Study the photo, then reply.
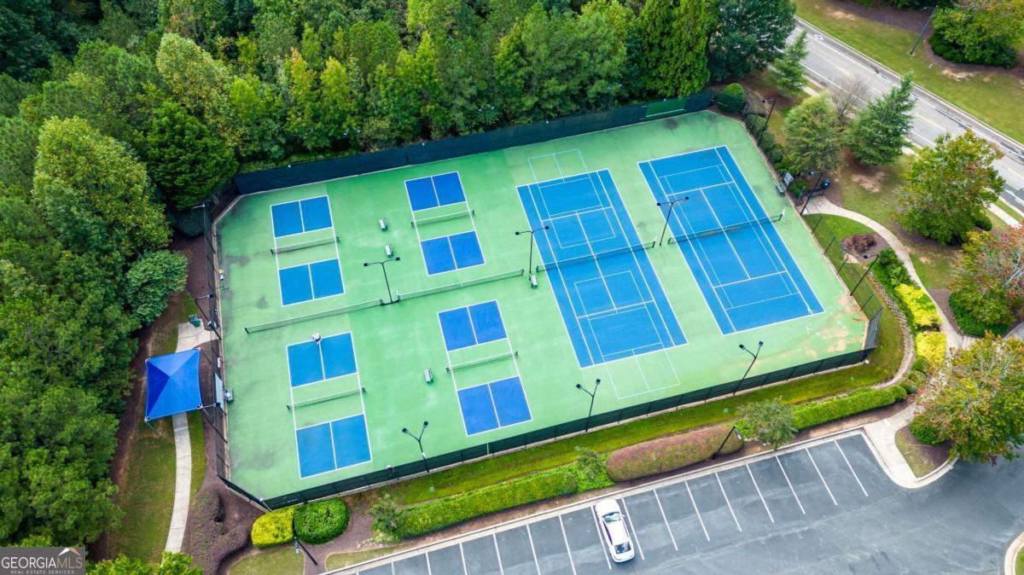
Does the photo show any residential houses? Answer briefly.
No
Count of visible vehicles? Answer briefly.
one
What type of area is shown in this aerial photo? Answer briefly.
sports ground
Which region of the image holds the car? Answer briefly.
bottom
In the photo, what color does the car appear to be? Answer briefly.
white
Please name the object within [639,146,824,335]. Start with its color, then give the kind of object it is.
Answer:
blue tennis court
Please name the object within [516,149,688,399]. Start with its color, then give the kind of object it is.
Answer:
blue tennis court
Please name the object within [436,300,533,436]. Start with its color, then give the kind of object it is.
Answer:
blue sports court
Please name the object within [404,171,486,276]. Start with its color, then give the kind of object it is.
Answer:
blue sports court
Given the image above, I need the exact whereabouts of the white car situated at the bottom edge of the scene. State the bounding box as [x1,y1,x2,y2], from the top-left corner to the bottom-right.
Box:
[599,496,634,561]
